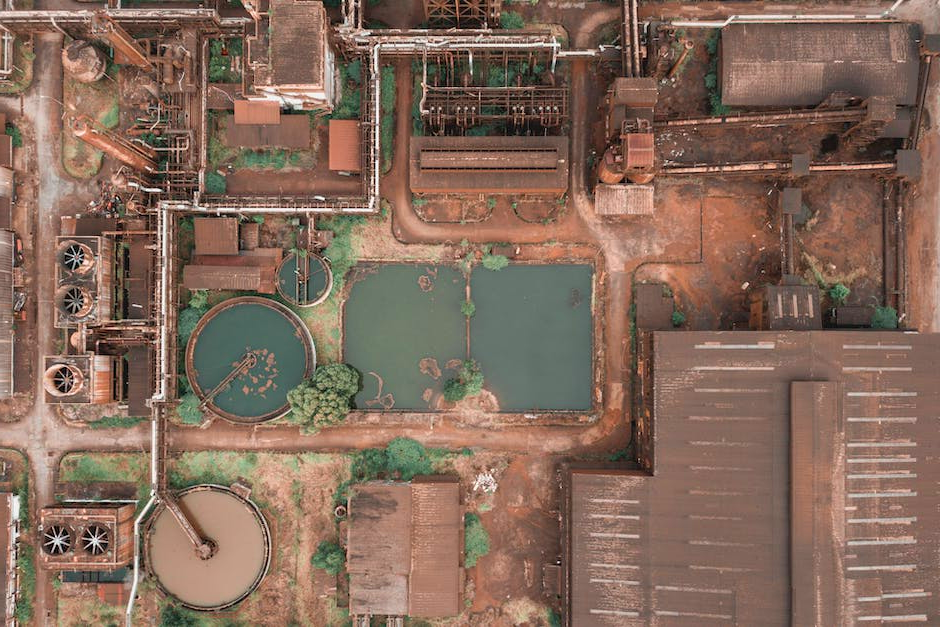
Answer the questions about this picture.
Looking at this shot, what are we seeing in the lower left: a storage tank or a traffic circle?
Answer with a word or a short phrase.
storage tank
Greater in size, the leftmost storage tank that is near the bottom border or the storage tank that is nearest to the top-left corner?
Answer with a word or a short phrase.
the leftmost storage tank that is near the bottom border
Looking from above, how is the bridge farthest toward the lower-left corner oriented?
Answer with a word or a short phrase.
diagonally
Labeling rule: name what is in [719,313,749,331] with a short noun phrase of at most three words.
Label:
shed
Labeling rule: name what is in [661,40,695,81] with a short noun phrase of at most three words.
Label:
chimney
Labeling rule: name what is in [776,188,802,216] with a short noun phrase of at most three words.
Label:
house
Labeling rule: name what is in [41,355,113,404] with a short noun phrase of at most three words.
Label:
cooling tower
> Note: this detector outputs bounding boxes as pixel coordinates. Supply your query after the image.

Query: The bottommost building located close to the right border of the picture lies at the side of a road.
[636,333,940,627]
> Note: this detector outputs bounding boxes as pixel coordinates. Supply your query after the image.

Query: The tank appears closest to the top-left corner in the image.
[62,39,111,85]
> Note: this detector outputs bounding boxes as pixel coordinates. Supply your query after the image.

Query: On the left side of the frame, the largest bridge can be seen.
[156,489,210,553]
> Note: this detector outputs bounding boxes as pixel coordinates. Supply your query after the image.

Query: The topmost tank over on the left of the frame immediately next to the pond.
[275,219,336,308]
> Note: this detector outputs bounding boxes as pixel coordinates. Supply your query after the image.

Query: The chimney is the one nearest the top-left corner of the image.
[71,117,157,171]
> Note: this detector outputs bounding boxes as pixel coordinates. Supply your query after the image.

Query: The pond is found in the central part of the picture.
[341,260,596,413]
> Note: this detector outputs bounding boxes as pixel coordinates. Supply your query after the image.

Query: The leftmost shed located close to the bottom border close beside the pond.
[348,480,411,617]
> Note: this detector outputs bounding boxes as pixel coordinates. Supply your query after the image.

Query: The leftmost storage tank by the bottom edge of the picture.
[144,478,275,612]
